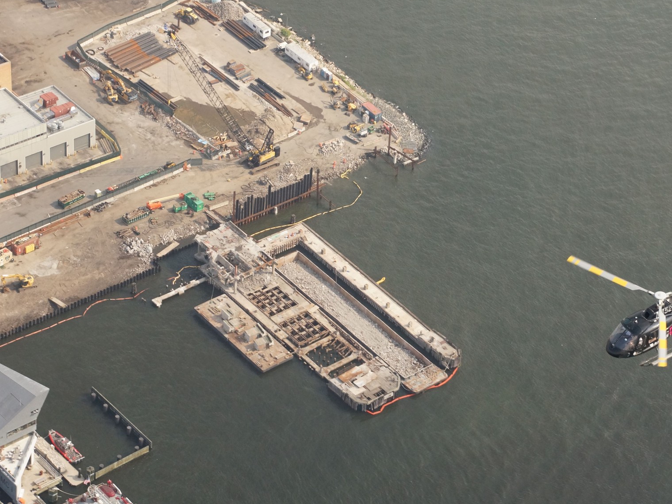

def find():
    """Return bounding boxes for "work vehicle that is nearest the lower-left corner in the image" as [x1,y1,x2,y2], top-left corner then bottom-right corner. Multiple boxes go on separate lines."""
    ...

[4,269,38,292]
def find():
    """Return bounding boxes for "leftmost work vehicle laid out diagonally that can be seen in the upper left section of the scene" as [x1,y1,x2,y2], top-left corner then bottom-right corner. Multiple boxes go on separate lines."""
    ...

[104,64,140,101]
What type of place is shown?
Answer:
port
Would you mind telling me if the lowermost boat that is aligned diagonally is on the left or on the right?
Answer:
left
